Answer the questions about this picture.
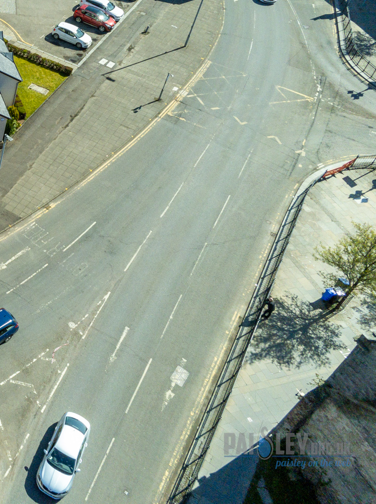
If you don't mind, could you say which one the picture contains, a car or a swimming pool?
car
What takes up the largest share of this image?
paved ground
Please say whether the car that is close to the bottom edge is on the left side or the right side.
left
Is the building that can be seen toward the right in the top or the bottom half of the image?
bottom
